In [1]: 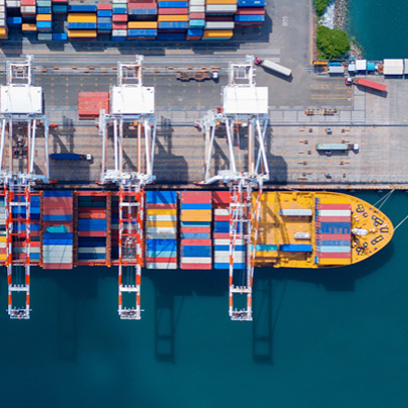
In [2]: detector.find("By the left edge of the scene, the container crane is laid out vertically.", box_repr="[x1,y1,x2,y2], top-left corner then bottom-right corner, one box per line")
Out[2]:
[0,52,63,320]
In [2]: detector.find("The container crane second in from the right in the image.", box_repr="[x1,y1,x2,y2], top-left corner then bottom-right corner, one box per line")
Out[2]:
[90,53,161,320]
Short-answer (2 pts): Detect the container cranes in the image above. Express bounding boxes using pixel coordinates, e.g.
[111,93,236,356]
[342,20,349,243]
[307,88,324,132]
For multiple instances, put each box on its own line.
[90,53,161,320]
[187,54,272,321]
[0,52,63,320]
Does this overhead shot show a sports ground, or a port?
port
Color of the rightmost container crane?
white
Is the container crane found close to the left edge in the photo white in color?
Yes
